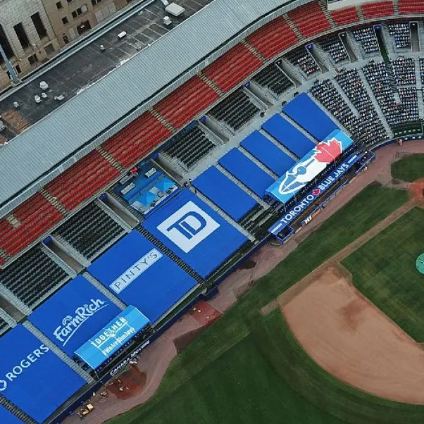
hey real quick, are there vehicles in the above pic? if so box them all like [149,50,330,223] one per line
[76,399,96,416]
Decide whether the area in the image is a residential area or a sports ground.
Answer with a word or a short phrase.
sports ground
